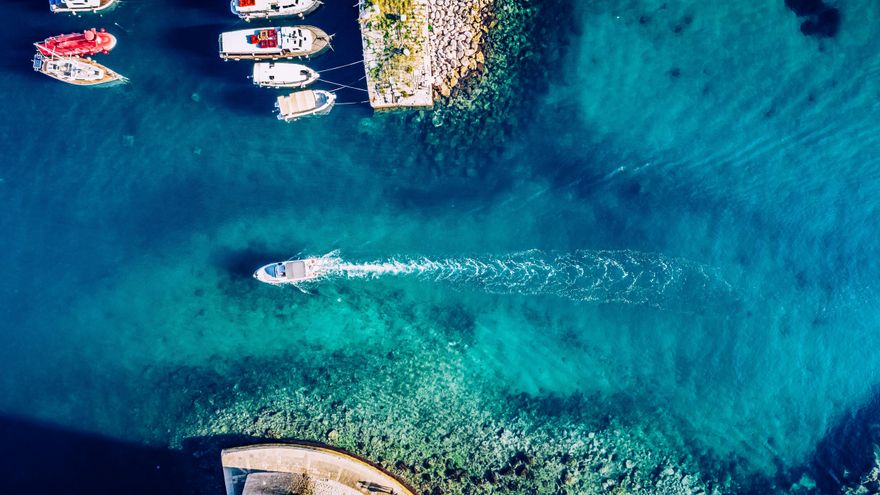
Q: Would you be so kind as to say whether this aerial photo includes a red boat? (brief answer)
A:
Yes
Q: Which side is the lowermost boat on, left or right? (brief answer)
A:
left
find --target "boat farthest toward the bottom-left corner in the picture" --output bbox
[253,256,327,281]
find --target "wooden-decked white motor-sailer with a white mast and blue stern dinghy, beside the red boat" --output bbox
[30,45,129,89]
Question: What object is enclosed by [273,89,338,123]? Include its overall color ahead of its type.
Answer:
white boat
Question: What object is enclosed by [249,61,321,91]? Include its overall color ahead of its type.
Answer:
white boat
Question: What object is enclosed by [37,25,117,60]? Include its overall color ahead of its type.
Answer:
red boat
